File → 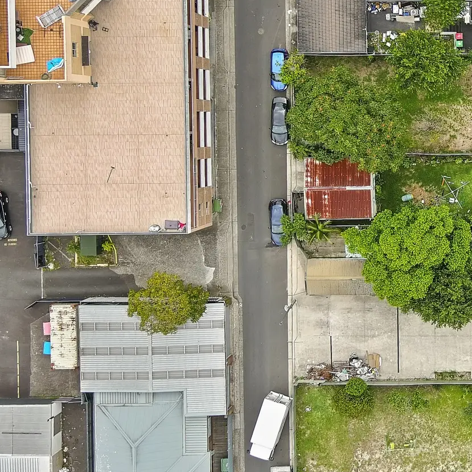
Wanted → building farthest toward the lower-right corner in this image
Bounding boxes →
[304,257,379,297]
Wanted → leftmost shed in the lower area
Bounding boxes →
[0,397,66,472]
